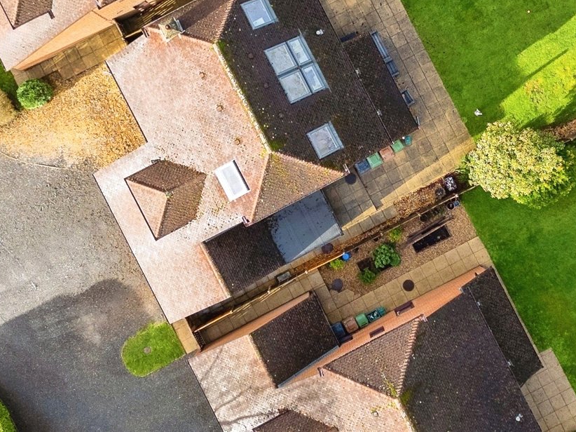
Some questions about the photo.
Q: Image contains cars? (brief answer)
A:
No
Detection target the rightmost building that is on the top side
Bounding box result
[93,0,419,323]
